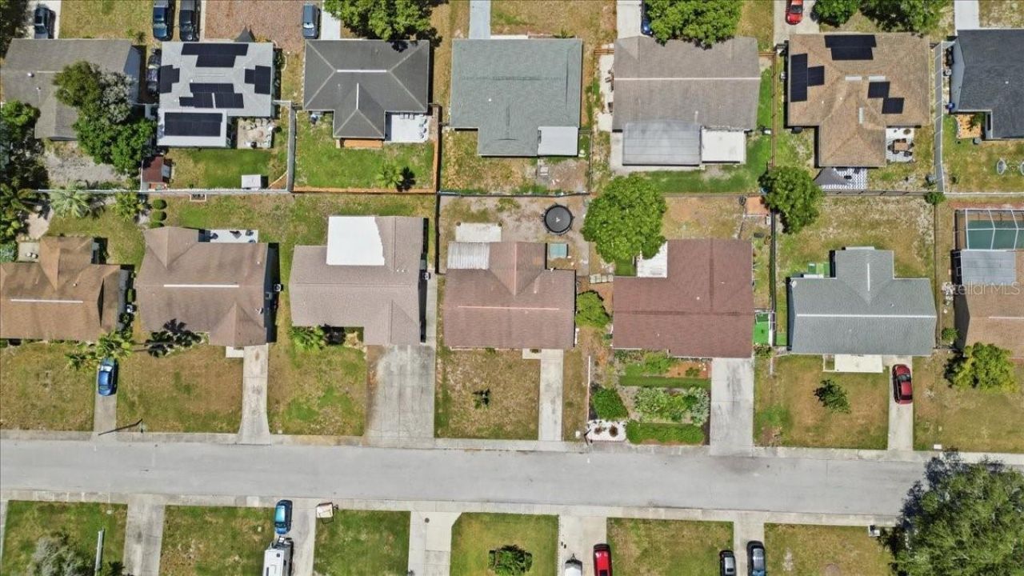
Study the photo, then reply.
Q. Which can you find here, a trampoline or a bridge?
trampoline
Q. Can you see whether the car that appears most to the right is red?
Yes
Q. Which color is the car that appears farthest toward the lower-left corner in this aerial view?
blue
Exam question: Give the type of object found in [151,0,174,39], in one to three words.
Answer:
truck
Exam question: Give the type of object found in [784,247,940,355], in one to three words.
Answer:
house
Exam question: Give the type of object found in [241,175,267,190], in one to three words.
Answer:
shed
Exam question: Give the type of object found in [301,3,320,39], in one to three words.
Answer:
car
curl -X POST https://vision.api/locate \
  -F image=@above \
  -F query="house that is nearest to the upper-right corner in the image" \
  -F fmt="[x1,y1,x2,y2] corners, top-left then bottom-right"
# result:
[946,29,1024,141]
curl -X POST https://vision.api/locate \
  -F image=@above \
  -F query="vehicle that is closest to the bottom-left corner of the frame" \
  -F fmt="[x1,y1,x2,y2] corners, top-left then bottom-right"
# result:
[97,359,118,395]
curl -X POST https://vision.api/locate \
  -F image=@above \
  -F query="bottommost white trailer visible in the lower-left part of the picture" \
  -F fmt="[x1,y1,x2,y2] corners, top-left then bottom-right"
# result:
[263,533,291,576]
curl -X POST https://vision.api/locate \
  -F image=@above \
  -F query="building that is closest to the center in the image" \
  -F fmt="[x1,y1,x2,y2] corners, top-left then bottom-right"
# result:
[443,241,577,348]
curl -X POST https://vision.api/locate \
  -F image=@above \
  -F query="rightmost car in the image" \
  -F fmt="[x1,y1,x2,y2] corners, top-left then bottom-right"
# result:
[892,364,913,403]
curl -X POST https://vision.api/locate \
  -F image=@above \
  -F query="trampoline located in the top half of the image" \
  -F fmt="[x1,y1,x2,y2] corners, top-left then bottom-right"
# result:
[543,204,574,234]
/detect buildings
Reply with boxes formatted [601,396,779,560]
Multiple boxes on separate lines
[450,38,582,158]
[0,236,129,339]
[132,226,273,348]
[443,241,577,348]
[784,247,940,355]
[946,29,1024,141]
[241,175,267,190]
[288,216,422,346]
[948,250,1024,358]
[612,37,762,168]
[613,239,758,358]
[304,39,430,140]
[158,41,278,151]
[784,33,930,168]
[142,155,178,189]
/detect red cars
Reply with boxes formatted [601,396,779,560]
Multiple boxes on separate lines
[892,364,913,403]
[784,0,803,22]
[593,541,611,576]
